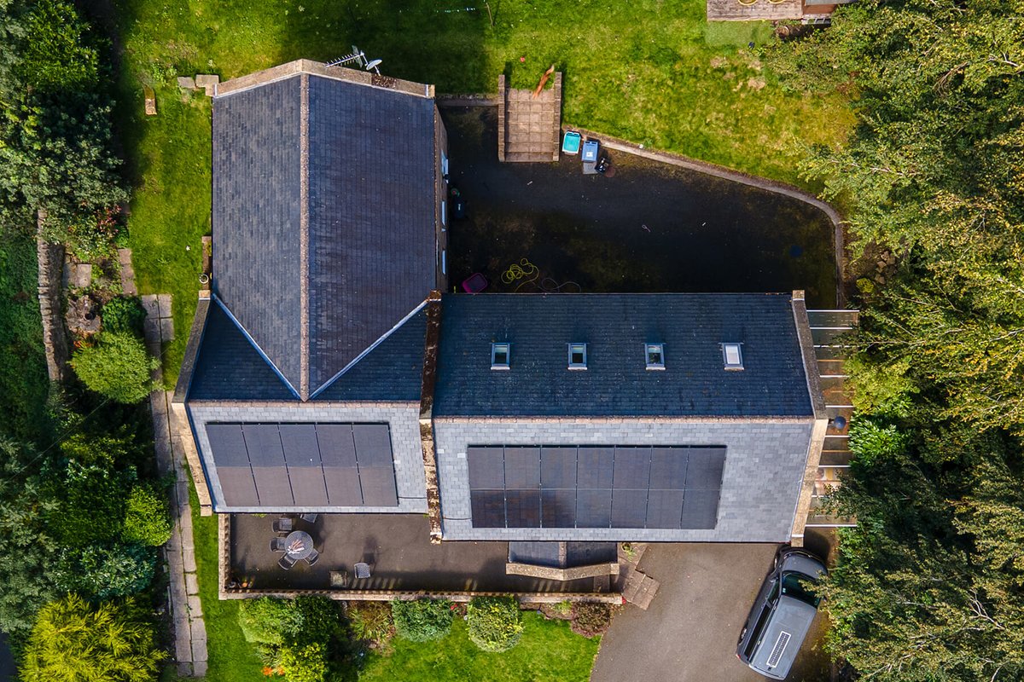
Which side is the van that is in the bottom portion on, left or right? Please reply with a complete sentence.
It is on the right.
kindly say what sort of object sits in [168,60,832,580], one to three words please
house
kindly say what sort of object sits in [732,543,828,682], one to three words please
van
